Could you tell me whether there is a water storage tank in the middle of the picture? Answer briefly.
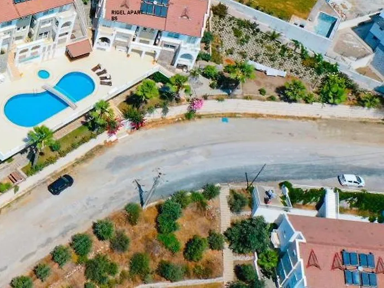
No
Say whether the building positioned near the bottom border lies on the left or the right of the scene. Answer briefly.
right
